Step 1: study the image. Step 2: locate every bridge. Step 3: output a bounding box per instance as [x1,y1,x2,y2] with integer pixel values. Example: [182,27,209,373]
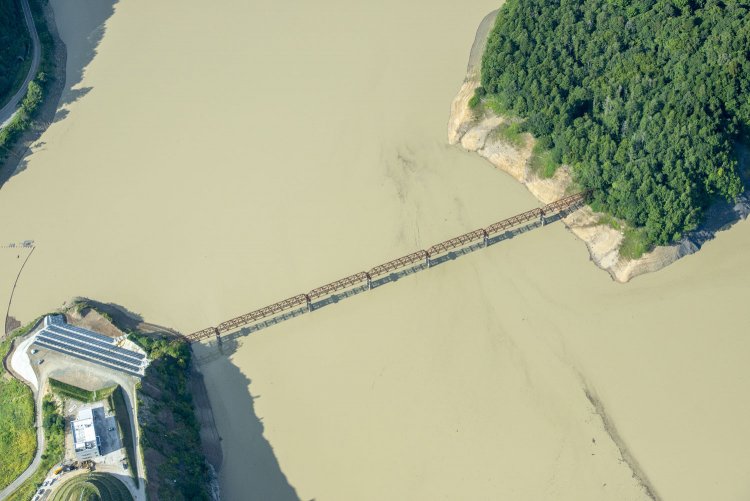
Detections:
[178,190,591,352]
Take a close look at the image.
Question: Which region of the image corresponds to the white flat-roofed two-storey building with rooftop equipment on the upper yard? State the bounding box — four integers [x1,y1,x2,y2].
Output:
[69,409,103,457]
